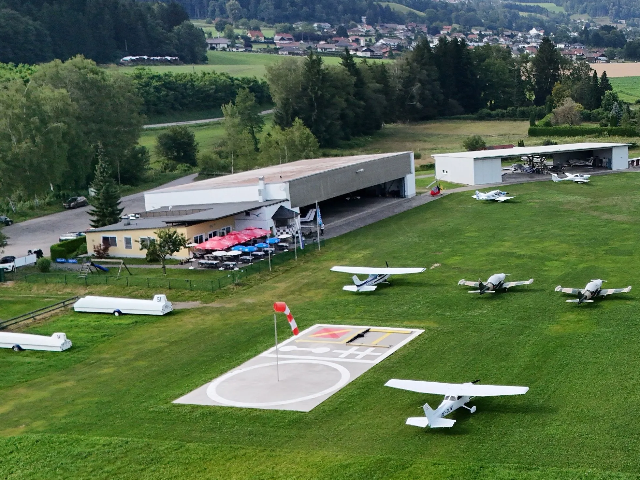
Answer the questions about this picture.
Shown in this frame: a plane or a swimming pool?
plane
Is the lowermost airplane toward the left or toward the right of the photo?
right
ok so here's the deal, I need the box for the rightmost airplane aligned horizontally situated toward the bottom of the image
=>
[557,281,629,301]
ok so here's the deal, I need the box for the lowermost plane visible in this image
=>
[386,379,530,430]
